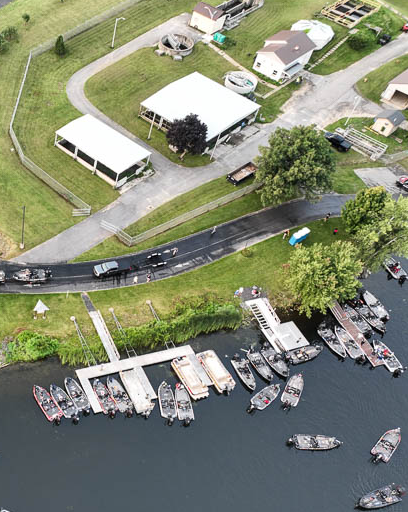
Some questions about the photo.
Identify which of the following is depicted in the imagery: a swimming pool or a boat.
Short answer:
boat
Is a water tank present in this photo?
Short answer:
Yes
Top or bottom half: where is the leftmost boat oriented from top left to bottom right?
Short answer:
bottom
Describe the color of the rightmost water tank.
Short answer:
white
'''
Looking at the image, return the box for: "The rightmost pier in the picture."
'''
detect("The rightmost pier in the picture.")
[330,301,385,368]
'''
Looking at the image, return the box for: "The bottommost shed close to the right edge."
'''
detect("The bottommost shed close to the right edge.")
[372,109,408,137]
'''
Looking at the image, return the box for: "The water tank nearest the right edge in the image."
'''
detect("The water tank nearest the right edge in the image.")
[294,21,340,53]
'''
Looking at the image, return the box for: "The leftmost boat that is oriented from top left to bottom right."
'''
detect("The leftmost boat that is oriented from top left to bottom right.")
[33,385,61,426]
